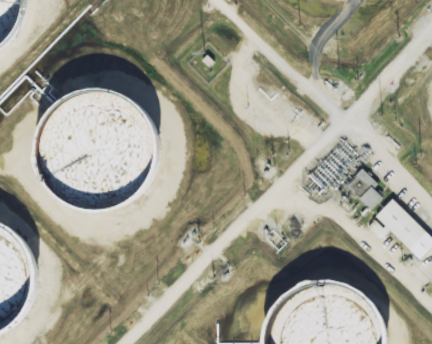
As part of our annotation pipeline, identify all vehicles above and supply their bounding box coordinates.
[409,200,418,208]
[384,236,392,246]
[423,258,432,266]
[399,190,408,198]
[386,172,394,180]
[362,242,370,250]
[373,162,382,170]
[386,264,394,272]
[391,243,400,252]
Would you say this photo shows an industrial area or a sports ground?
industrial area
